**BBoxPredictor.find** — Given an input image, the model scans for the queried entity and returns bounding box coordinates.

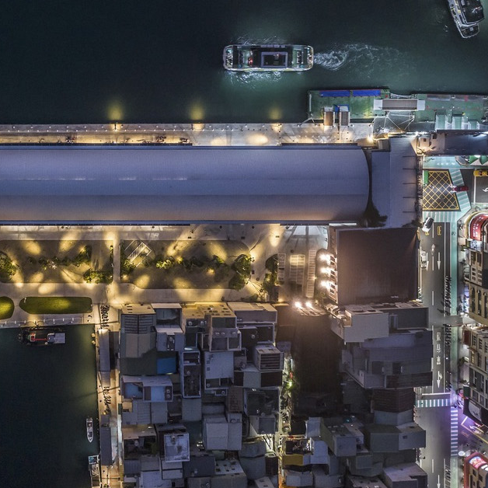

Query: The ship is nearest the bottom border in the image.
[88,455,100,488]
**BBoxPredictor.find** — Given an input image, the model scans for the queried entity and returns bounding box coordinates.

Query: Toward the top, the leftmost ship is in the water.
[223,45,316,72]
